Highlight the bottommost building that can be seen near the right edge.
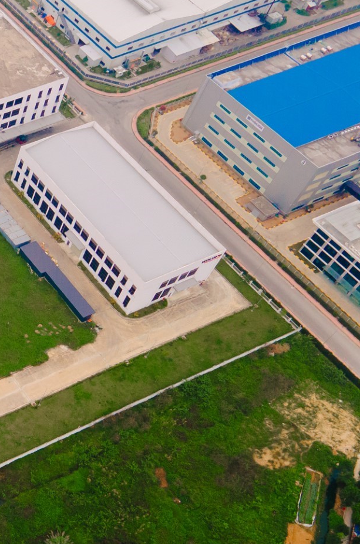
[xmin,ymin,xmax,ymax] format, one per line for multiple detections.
[296,201,360,309]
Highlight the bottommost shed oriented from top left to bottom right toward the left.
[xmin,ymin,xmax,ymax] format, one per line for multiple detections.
[19,242,96,322]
